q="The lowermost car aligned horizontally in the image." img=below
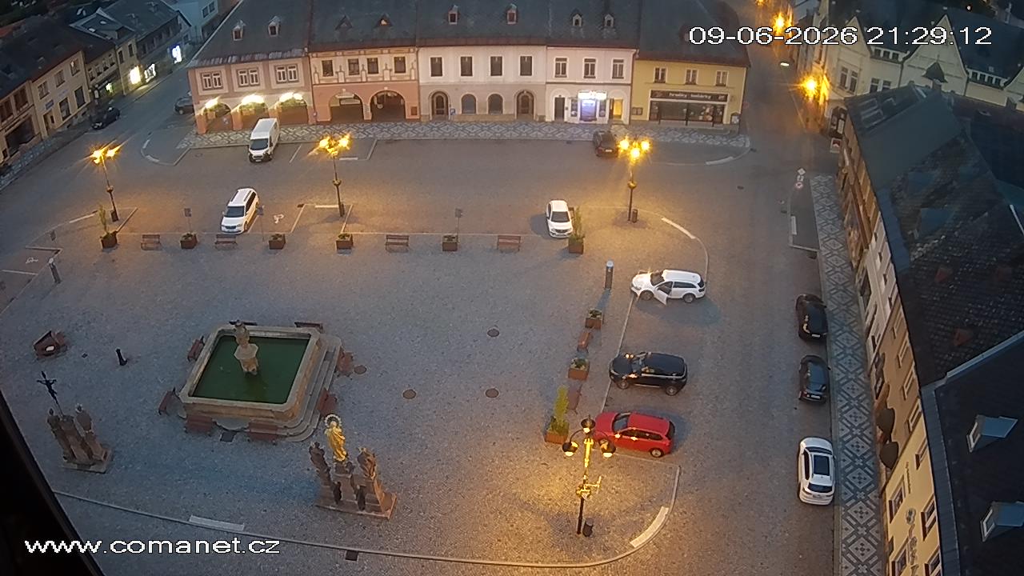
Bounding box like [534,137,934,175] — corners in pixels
[589,408,677,458]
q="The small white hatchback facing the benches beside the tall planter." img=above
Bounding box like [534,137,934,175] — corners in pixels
[547,197,576,237]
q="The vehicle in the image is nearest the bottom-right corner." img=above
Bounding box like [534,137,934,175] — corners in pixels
[793,430,839,510]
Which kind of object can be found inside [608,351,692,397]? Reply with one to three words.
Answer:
car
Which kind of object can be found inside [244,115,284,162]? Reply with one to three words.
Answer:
van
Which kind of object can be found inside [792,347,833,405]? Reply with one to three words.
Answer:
car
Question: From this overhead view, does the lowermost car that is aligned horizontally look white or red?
red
